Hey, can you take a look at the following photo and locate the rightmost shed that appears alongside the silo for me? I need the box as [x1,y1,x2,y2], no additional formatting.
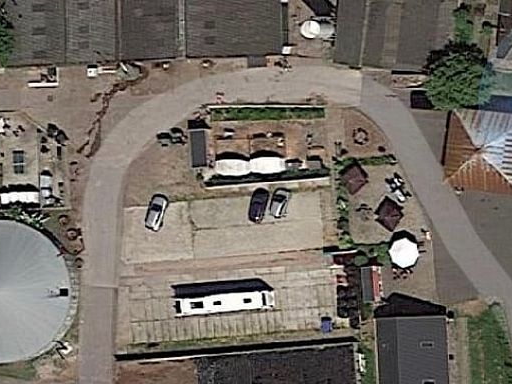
[335,0,465,72]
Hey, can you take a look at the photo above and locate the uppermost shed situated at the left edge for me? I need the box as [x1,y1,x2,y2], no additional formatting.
[2,0,116,67]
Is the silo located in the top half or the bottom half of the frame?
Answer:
top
